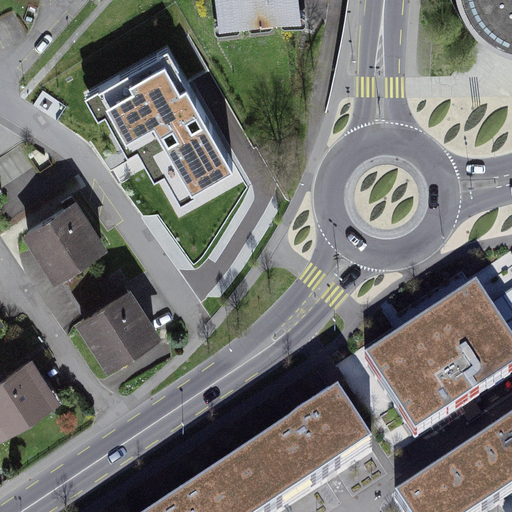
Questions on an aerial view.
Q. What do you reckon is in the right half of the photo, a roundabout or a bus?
roundabout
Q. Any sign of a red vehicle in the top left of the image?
No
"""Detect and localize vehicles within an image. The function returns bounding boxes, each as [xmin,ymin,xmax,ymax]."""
[428,186,438,209]
[339,266,360,288]
[466,164,486,176]
[152,314,174,330]
[107,448,128,464]
[34,36,53,55]
[202,388,222,406]
[346,234,368,253]
[24,6,36,25]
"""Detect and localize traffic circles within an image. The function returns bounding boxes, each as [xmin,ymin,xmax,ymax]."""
[312,122,460,272]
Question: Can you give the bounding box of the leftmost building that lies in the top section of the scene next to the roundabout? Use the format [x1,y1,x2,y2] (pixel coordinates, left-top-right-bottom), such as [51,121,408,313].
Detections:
[84,48,244,218]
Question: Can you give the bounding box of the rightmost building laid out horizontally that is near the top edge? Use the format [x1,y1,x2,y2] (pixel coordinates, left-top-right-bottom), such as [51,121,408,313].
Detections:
[214,0,305,39]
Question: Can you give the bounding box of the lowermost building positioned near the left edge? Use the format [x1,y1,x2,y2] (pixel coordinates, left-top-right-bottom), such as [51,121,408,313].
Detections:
[0,361,60,444]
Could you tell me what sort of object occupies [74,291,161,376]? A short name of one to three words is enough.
house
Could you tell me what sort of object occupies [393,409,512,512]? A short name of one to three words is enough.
building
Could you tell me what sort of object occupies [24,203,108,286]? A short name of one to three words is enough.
house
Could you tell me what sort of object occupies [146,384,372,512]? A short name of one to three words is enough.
building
